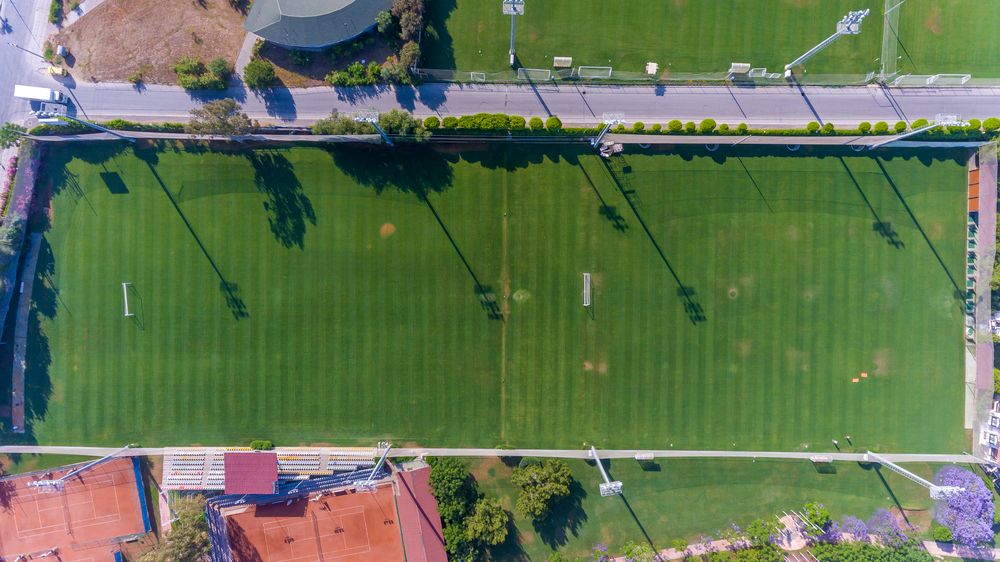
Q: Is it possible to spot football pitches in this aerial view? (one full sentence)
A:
Yes, the image includes a football pitch.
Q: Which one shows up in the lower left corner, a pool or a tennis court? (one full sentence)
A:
You can see a tennis court in the lower left corner.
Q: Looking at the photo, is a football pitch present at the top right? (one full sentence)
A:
Yes, at the top right there is a football pitch.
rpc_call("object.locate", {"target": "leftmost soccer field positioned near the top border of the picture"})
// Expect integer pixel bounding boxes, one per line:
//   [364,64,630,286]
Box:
[421,0,880,82]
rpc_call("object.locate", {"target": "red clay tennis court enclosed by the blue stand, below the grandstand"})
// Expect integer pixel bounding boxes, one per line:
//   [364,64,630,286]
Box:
[224,481,407,562]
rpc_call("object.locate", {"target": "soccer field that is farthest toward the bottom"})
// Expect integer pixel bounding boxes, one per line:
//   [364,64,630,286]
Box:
[0,147,971,458]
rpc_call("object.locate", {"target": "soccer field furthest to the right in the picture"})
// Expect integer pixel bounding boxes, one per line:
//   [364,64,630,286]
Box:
[880,0,1000,82]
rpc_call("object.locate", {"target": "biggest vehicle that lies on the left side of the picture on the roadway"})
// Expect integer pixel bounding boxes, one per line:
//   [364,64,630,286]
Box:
[13,87,71,106]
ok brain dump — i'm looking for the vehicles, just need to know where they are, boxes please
[13,87,71,106]
[48,65,73,78]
